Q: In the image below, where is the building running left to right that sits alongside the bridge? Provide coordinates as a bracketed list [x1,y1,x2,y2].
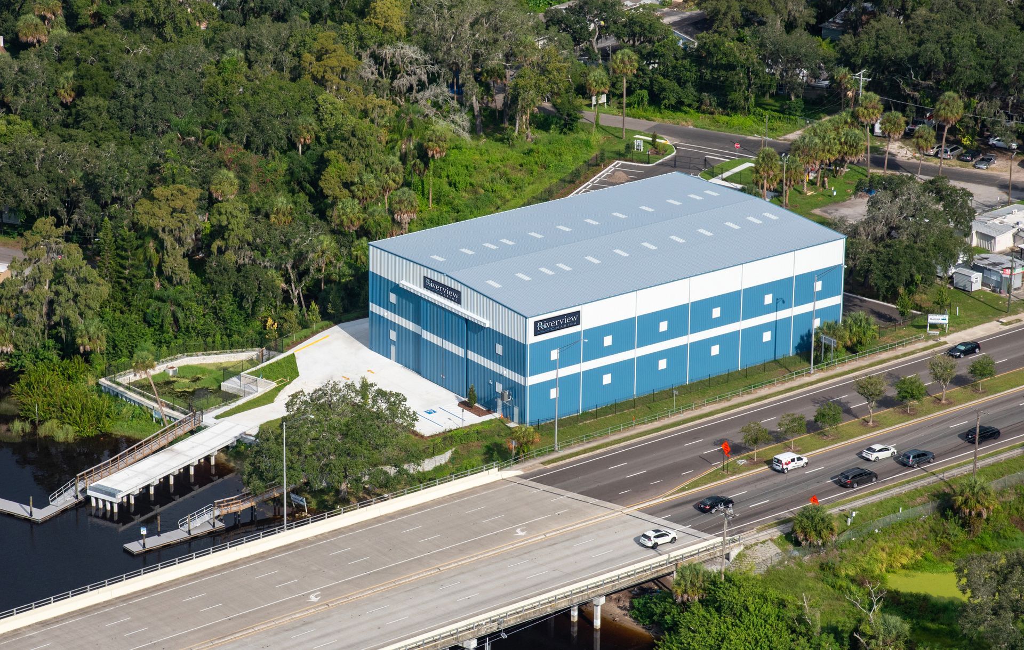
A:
[365,170,846,428]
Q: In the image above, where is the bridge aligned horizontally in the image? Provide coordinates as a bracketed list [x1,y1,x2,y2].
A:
[0,467,751,650]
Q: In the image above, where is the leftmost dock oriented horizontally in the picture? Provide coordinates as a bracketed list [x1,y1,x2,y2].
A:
[0,491,89,526]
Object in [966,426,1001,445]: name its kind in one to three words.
car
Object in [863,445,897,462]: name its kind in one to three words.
car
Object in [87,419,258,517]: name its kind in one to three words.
pier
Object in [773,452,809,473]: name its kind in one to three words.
vehicle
